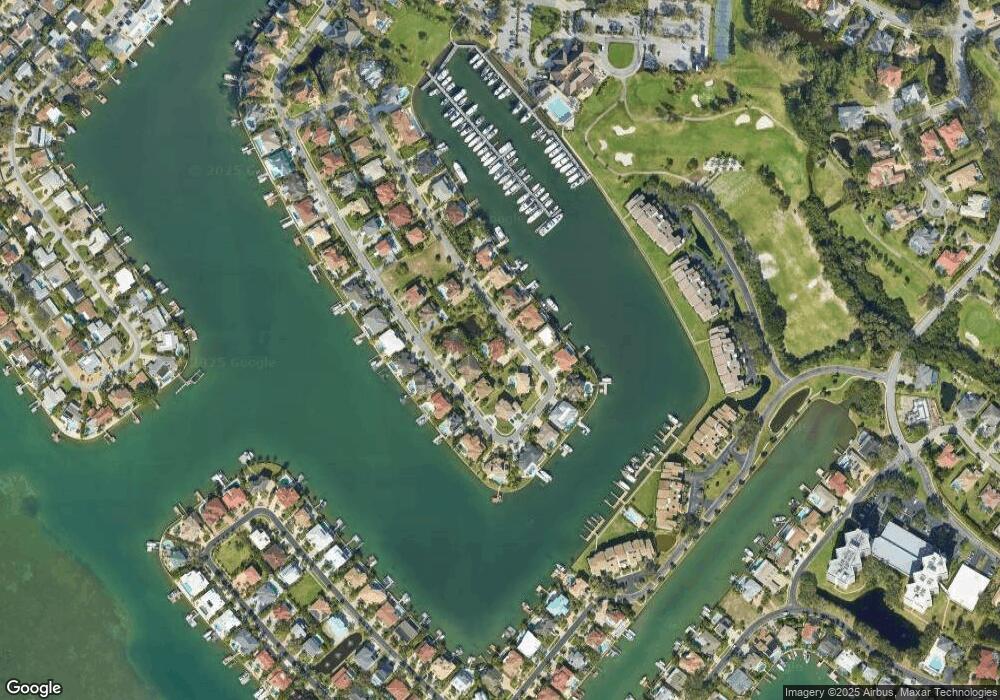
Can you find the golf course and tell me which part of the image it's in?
top right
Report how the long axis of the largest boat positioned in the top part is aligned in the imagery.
at an angle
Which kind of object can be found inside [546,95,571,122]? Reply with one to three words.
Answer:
swimming pool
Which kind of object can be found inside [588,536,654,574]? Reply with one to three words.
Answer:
building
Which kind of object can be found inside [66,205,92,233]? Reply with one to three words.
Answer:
house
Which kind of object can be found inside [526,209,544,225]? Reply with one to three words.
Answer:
boat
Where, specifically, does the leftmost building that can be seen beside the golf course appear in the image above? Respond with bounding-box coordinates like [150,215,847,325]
[546,45,599,92]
